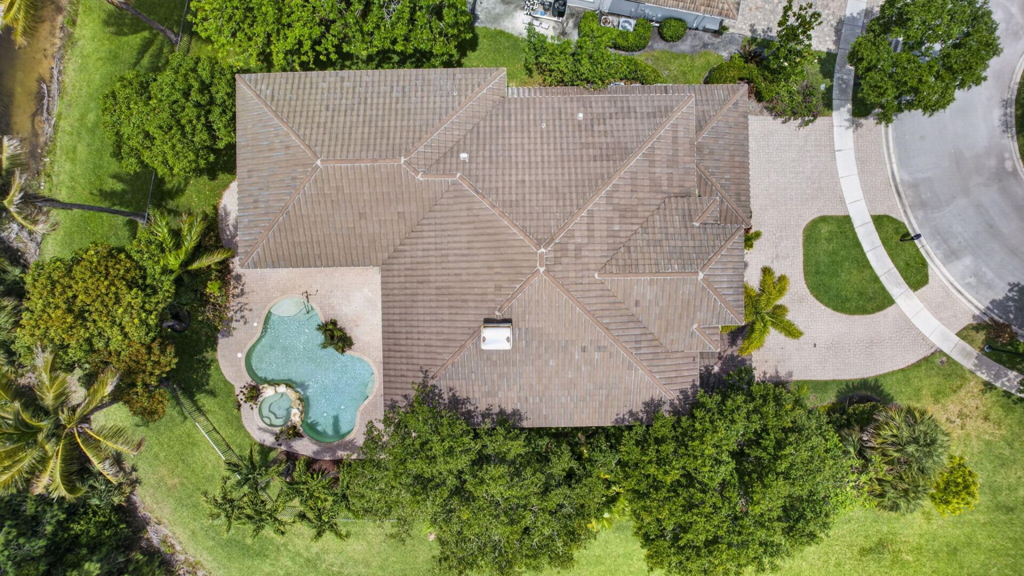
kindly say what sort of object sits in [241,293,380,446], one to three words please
swimming pool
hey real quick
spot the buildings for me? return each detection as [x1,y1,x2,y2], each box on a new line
[566,0,747,36]
[233,66,756,431]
